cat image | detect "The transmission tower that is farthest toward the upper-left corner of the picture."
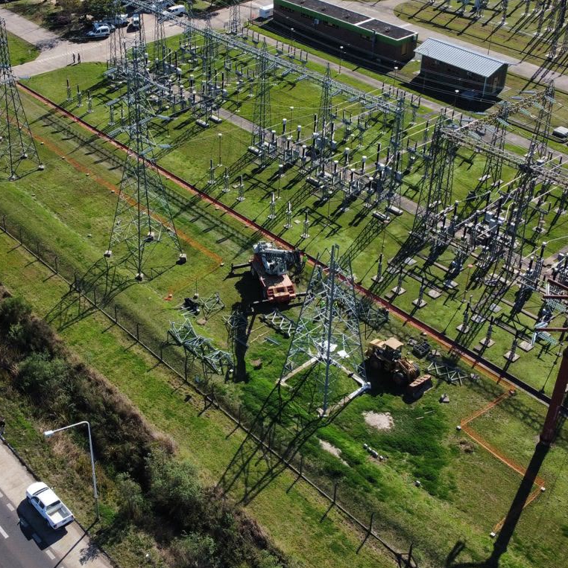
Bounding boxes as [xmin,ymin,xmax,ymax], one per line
[0,15,47,179]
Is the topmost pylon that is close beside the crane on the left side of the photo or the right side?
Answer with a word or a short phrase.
left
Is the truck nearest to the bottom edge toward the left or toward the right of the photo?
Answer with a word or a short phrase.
left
